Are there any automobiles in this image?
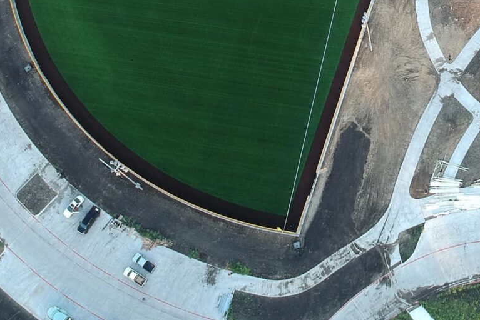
Yes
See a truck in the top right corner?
No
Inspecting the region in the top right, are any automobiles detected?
No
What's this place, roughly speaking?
sports ground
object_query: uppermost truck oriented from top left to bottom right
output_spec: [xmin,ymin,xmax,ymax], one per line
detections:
[130,251,157,275]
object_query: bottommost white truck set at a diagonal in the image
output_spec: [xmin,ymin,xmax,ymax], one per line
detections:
[121,265,149,288]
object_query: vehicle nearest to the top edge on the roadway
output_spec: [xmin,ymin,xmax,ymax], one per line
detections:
[61,192,83,219]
